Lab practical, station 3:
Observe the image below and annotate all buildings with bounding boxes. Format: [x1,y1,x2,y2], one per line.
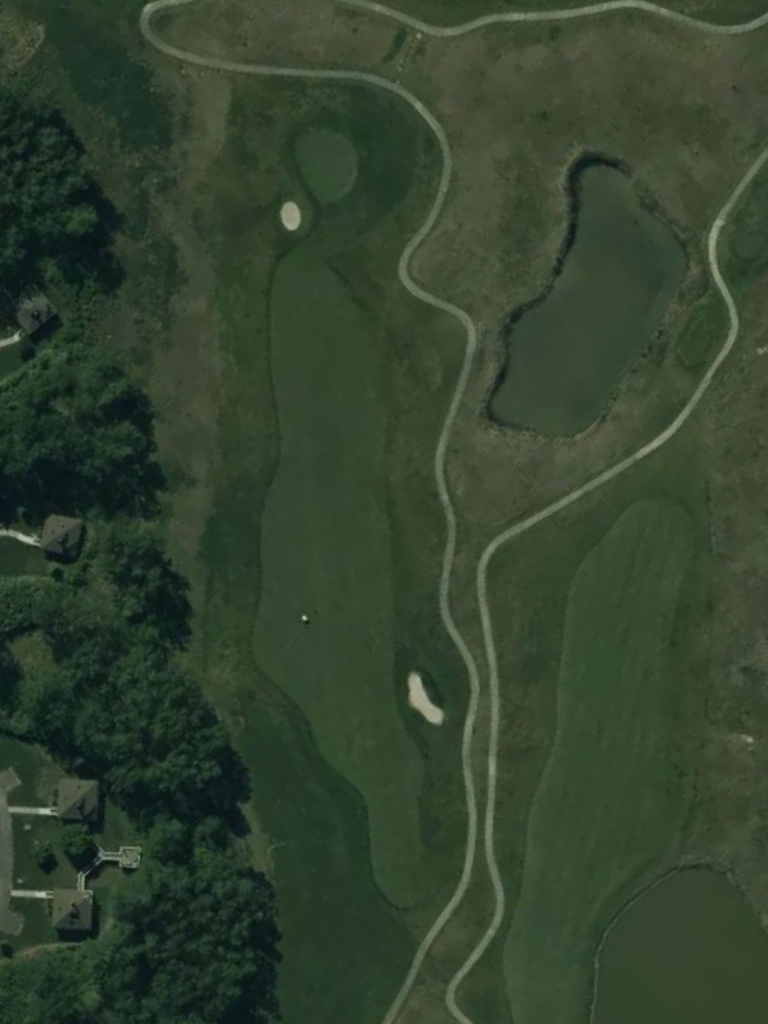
[40,513,81,553]
[6,284,56,334]
[49,889,93,930]
[57,780,97,820]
